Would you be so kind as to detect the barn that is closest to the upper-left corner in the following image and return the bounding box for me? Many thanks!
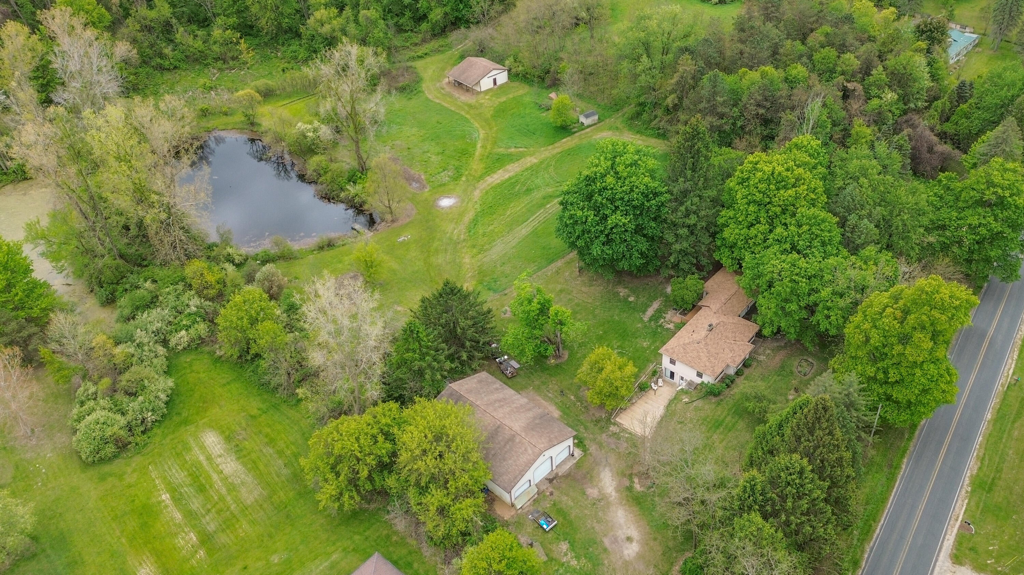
[446,57,509,94]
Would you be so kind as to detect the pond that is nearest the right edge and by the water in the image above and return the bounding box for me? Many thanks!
[178,133,375,253]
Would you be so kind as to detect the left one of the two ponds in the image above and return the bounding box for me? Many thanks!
[0,179,115,336]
